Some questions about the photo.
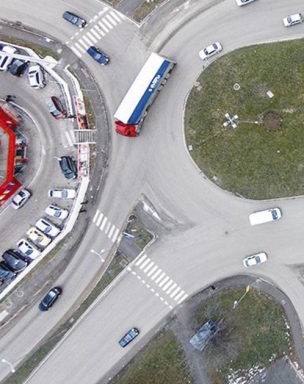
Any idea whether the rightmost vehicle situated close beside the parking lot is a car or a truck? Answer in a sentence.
It turns out the rightmost vehicle situated close beside the parking lot is a truck.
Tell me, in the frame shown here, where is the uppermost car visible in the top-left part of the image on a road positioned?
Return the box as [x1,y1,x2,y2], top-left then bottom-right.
[62,10,88,28]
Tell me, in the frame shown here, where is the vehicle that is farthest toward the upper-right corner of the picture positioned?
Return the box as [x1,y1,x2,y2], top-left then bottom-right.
[282,14,304,27]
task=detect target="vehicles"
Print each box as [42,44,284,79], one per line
[11,55,29,80]
[236,0,258,6]
[10,188,33,210]
[45,204,70,220]
[59,154,78,180]
[17,238,41,257]
[113,52,173,134]
[88,46,110,64]
[0,262,17,282]
[49,95,68,120]
[50,188,75,200]
[41,286,62,310]
[189,320,217,351]
[251,207,281,224]
[199,41,223,58]
[62,10,88,28]
[243,251,268,267]
[29,64,46,88]
[28,227,51,246]
[2,250,29,271]
[119,327,140,346]
[282,14,304,27]
[36,218,60,237]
